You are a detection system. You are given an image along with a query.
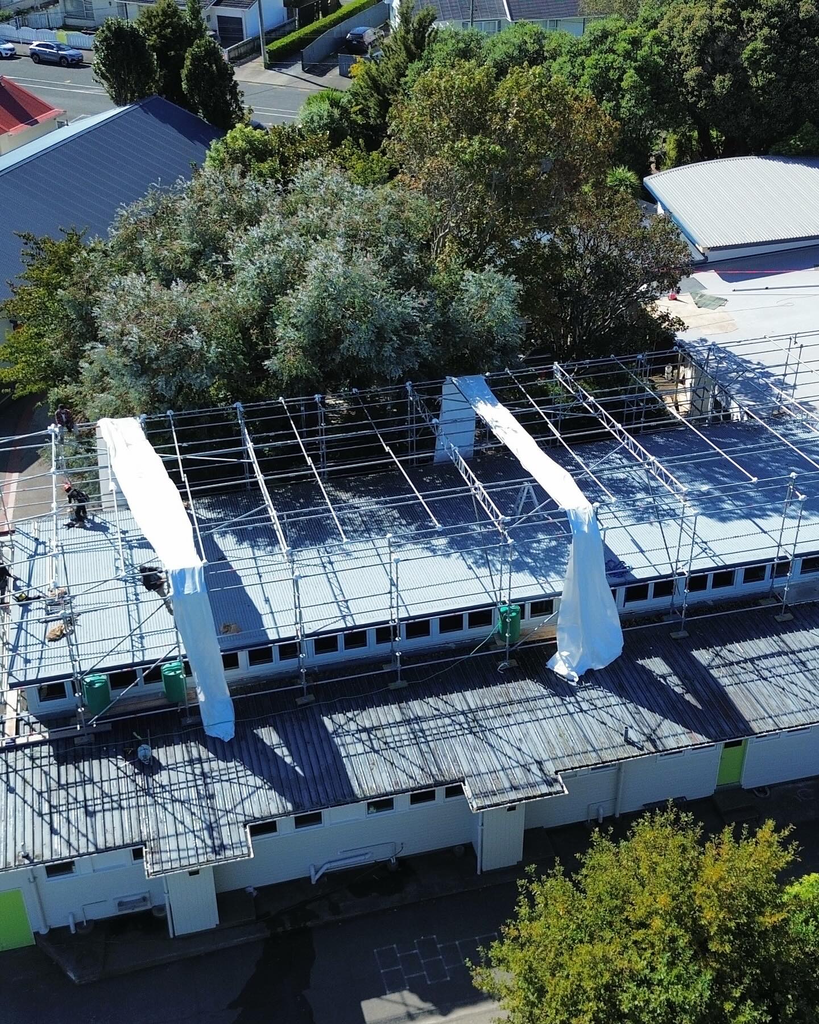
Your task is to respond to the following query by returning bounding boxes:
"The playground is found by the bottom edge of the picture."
[0,854,819,1024]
